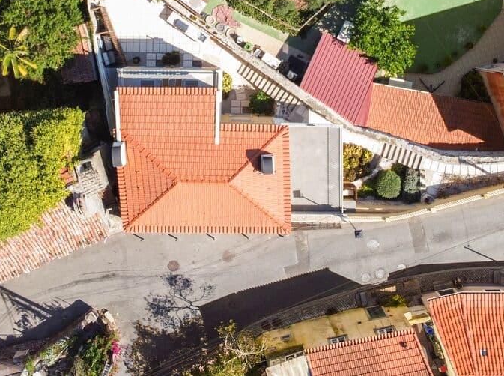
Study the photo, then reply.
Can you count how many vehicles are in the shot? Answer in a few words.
0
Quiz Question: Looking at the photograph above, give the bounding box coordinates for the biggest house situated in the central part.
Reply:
[113,70,292,242]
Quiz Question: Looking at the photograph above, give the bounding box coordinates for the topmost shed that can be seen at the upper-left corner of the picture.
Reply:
[64,22,99,83]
